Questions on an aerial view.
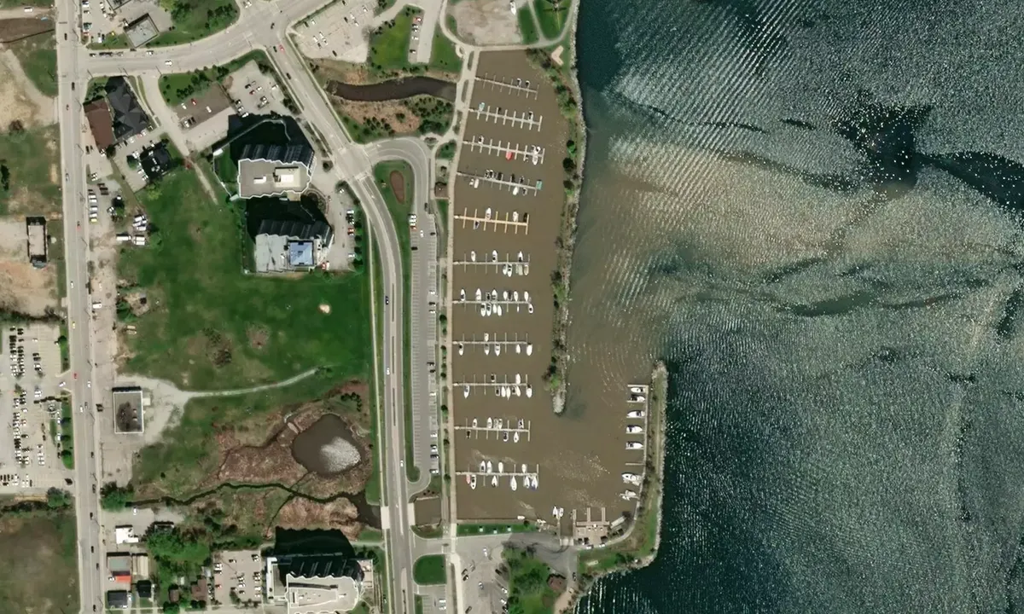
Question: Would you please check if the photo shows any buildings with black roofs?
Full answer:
Yes, looking at the shot, I can spot a building with a black roof.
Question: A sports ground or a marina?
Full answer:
This looks like a marina.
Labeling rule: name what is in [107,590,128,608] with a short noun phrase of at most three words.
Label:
house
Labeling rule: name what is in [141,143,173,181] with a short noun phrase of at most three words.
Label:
building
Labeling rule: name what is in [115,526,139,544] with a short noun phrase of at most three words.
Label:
building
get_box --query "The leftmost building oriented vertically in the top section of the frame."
[27,218,49,269]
